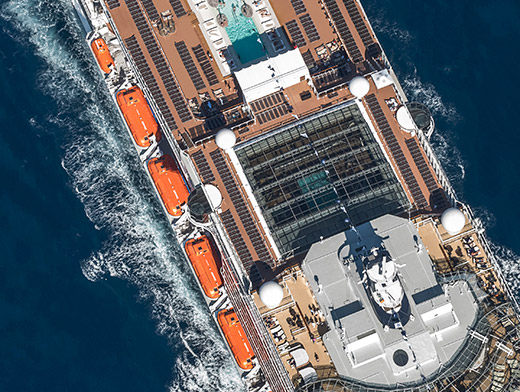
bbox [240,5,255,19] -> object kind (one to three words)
umbrella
